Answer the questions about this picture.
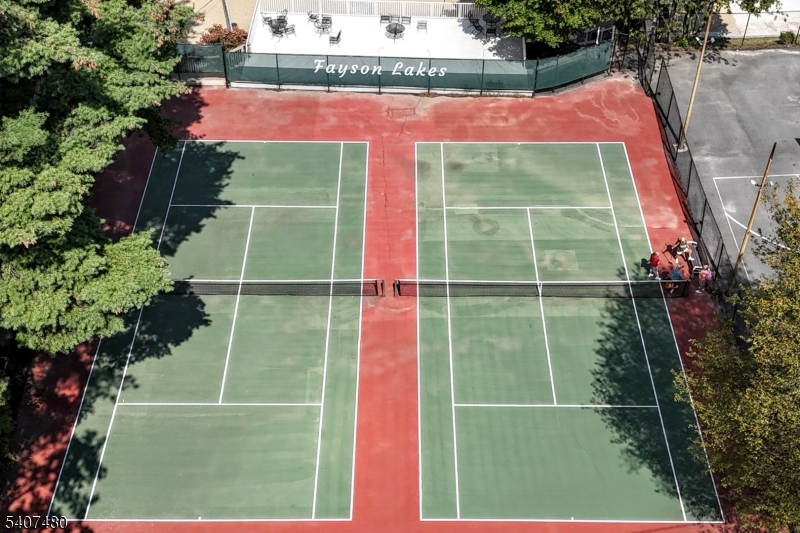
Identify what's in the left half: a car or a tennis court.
tennis court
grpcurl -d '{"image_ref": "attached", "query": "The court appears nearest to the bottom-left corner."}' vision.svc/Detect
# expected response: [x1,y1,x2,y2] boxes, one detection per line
[47,141,368,520]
